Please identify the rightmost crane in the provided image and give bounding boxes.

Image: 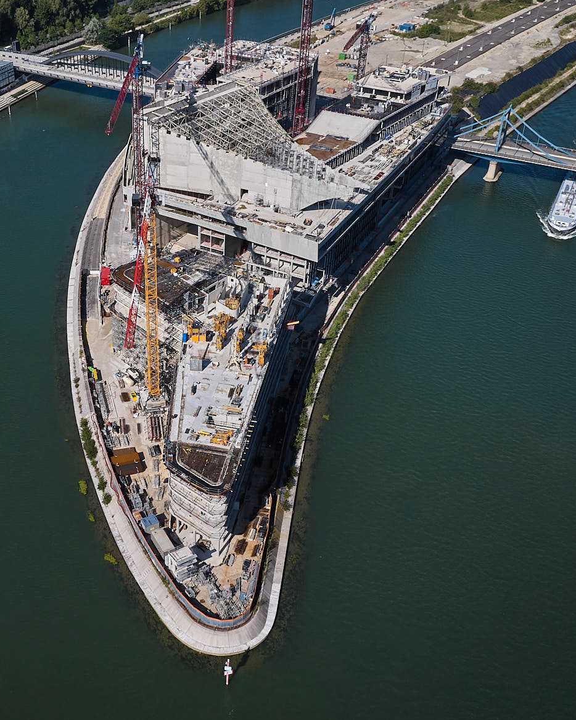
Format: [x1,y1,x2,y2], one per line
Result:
[340,8,370,83]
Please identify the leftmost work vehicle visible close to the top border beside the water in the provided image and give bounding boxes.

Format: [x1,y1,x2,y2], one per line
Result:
[324,0,337,28]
